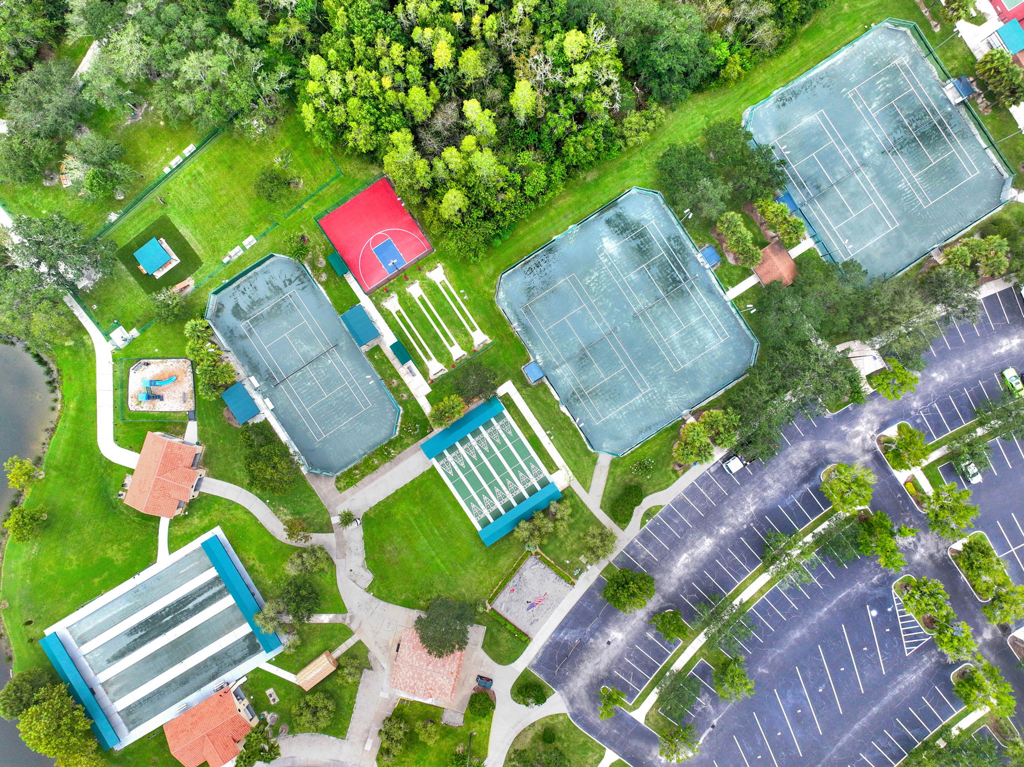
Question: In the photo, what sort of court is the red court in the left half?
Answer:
basketball court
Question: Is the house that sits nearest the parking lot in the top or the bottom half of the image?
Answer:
bottom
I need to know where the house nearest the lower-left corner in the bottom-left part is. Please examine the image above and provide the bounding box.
[164,671,263,767]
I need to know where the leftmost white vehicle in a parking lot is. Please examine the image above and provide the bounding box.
[722,452,754,475]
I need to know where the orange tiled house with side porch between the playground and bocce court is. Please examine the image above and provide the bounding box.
[124,430,209,520]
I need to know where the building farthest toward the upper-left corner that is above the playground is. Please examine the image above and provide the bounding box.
[134,237,177,276]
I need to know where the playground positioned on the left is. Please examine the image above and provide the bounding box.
[127,358,194,411]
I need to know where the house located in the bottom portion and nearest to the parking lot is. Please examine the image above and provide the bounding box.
[389,626,468,704]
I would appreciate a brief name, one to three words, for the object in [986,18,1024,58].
building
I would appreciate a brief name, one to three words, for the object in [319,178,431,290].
basketball court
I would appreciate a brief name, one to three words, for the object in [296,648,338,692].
shed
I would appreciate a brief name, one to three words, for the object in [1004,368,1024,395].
car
